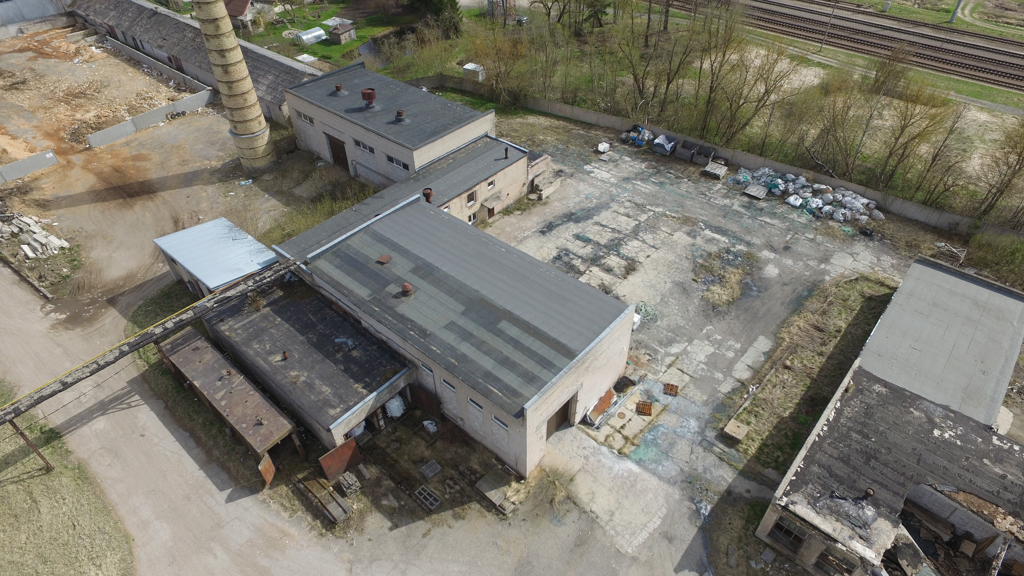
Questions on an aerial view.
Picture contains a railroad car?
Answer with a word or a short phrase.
No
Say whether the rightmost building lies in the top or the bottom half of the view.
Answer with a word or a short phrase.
bottom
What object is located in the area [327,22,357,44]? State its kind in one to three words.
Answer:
shed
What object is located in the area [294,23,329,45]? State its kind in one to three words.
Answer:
greenhouse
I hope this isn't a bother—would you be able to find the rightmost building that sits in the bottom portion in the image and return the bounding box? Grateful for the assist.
[754,252,1024,576]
